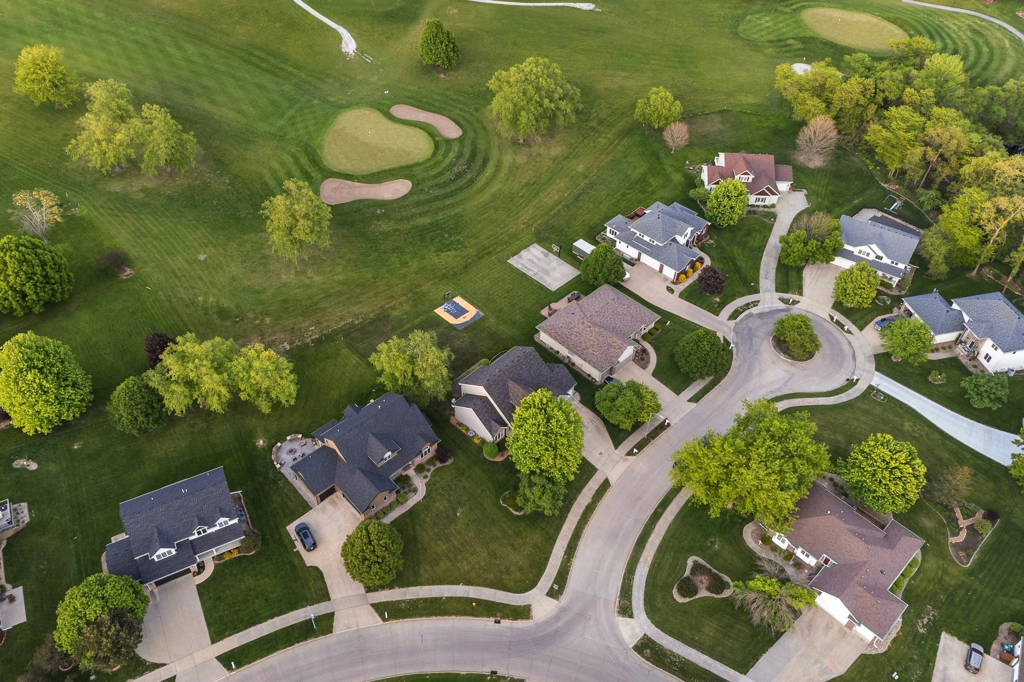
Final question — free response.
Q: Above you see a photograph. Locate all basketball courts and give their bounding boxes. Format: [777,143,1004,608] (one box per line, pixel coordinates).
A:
[508,243,580,291]
[434,296,484,330]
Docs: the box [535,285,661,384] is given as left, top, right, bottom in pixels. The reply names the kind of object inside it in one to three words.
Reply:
house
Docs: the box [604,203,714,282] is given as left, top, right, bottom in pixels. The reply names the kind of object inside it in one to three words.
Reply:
house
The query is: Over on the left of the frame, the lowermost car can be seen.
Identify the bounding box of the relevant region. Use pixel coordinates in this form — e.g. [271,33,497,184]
[295,522,318,554]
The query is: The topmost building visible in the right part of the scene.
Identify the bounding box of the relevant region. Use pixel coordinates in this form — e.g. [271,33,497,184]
[704,148,794,209]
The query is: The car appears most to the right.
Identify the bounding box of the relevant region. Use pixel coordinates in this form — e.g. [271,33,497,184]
[963,640,987,678]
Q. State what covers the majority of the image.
grass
